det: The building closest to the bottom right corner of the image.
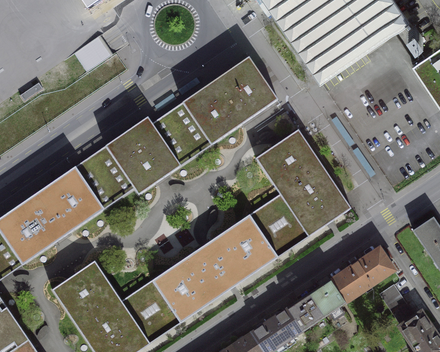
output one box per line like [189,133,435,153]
[398,309,440,352]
